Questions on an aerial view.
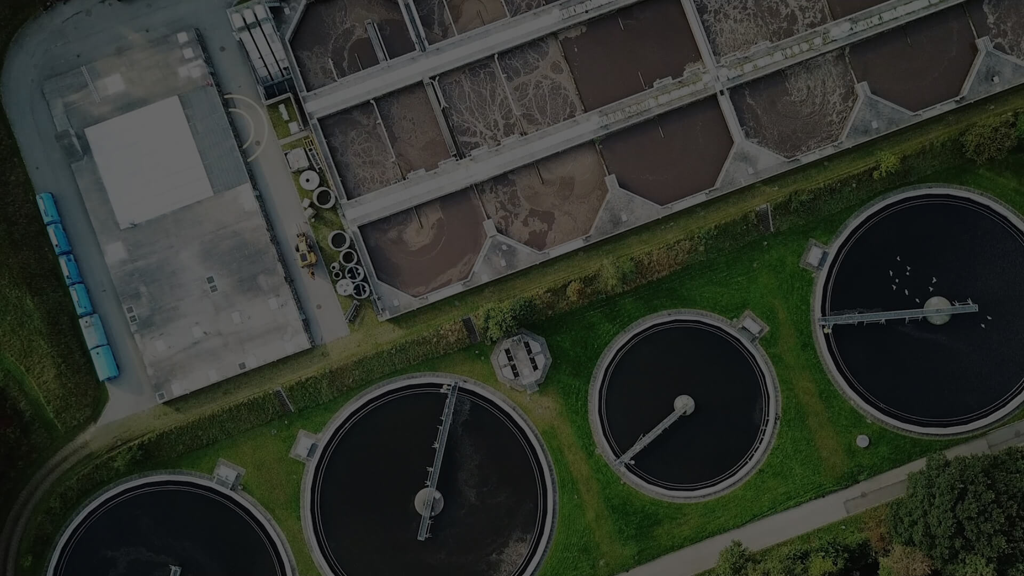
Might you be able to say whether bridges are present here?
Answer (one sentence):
Yes, the frame does contain a bridge.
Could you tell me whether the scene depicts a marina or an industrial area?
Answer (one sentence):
The area seen from above is an industrial area.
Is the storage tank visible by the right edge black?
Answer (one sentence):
Yes, the storage tank visible by the right edge is black.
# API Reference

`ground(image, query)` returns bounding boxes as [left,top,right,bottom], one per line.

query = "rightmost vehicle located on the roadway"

[293,220,321,275]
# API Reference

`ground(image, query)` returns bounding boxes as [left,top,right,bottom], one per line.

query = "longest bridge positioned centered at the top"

[423,78,458,157]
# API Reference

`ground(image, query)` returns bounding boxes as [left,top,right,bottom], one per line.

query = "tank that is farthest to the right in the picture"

[801,183,1024,438]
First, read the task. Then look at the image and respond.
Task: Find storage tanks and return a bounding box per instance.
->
[50,463,298,576]
[293,371,559,576]
[801,183,1024,438]
[587,308,781,502]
